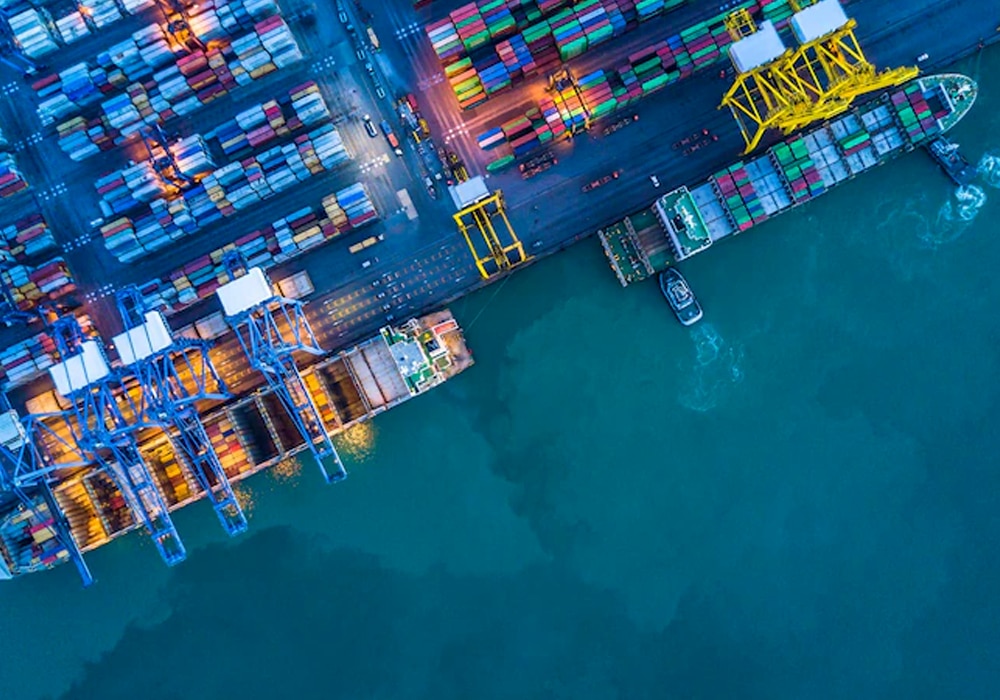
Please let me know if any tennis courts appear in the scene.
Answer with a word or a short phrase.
No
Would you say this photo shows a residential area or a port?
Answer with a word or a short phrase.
port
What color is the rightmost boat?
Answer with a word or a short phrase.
blue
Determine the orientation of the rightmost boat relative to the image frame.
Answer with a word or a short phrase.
on a diagonal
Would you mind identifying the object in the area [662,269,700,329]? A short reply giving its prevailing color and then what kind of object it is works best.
blue boat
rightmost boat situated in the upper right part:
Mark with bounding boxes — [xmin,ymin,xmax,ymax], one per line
[927,141,979,189]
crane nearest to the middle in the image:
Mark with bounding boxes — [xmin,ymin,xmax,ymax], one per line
[441,146,530,282]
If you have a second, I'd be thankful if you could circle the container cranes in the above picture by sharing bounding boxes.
[52,321,188,566]
[0,358,123,586]
[138,118,203,192]
[154,0,209,62]
[441,146,530,282]
[715,3,862,157]
[113,292,250,536]
[215,246,349,488]
[773,0,931,130]
[541,57,593,139]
